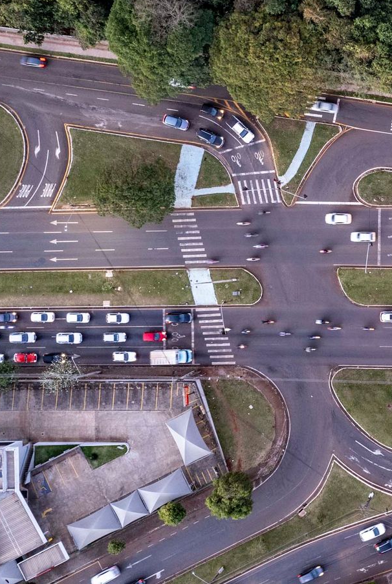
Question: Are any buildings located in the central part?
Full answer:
No, no building appears in the central part.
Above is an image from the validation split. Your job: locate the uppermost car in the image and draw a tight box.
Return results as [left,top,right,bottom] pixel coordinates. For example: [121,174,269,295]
[21,54,49,69]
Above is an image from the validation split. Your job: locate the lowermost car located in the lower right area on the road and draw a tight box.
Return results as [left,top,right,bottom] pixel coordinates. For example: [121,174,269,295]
[296,564,324,584]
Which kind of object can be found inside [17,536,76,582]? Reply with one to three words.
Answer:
building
